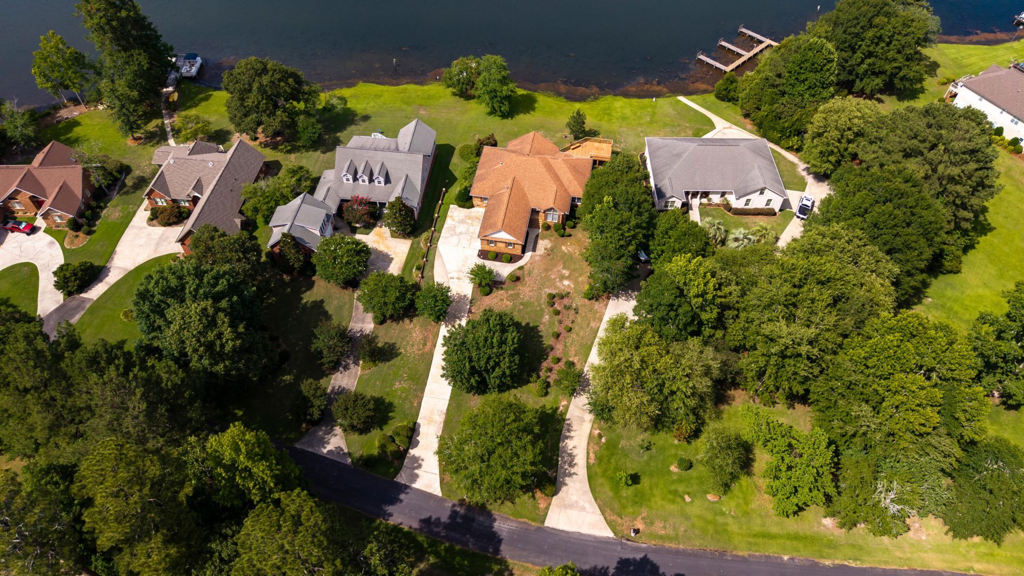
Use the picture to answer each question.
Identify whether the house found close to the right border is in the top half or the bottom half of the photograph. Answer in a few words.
top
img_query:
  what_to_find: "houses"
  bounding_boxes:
[0,141,111,229]
[468,129,593,255]
[141,132,272,257]
[267,116,438,262]
[644,136,789,214]
[928,59,1024,158]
